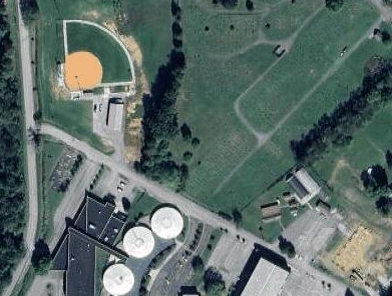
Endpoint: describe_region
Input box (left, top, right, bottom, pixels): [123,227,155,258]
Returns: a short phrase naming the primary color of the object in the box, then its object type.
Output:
white storage tank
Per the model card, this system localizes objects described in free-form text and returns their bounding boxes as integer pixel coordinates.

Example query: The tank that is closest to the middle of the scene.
[151,206,184,240]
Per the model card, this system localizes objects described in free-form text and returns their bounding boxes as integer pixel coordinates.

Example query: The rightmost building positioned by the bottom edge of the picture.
[241,258,290,296]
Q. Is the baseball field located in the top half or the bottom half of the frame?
top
